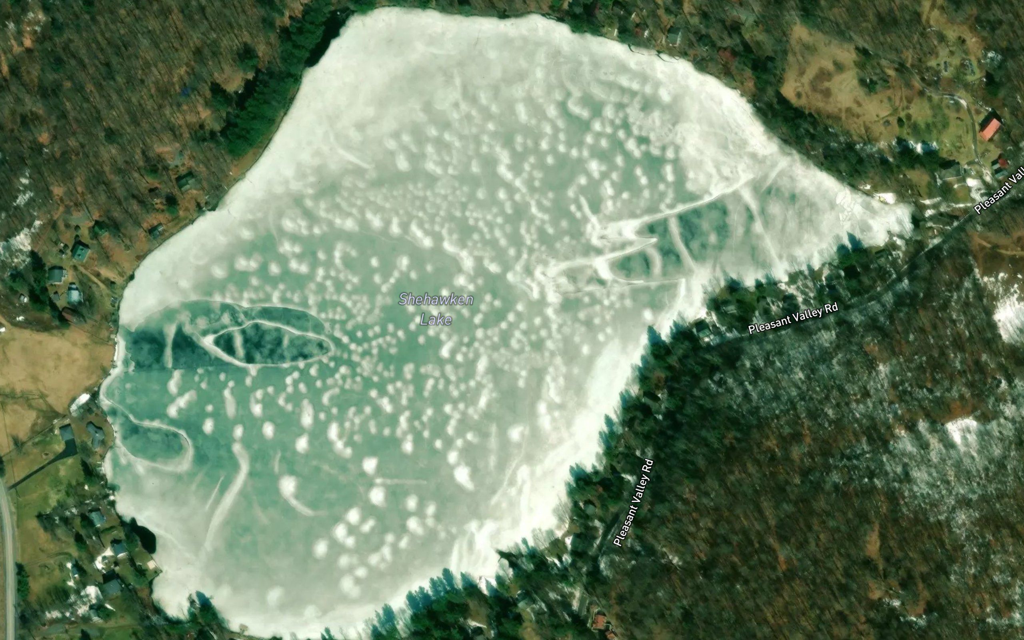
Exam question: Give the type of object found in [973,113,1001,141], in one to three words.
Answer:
barn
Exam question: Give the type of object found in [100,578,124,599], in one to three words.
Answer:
house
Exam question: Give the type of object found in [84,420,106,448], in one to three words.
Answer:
house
